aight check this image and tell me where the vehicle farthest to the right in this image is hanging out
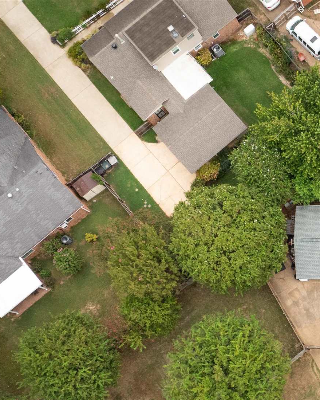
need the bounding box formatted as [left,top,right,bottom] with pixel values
[283,10,320,61]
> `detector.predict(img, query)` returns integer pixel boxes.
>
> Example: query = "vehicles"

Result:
[256,0,277,12]
[283,10,320,61]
